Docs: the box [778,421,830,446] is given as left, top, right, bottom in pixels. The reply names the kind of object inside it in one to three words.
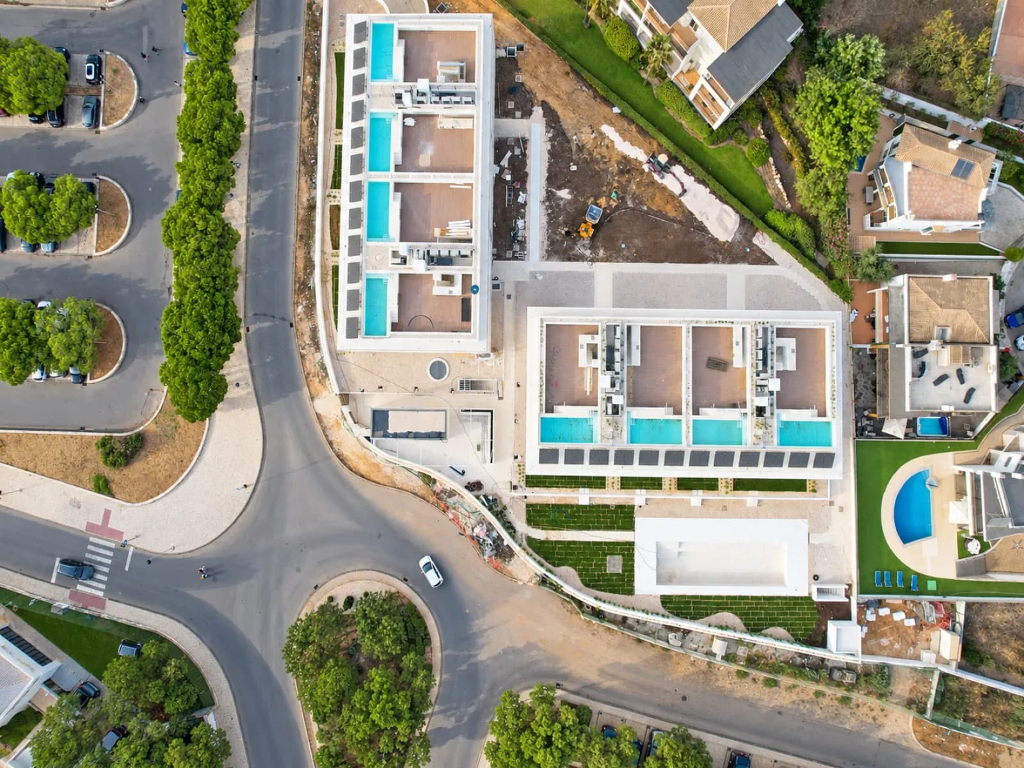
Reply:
swimming pool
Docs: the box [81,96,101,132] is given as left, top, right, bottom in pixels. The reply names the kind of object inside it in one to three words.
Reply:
car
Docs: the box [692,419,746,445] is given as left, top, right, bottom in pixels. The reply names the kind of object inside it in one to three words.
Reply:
swimming pool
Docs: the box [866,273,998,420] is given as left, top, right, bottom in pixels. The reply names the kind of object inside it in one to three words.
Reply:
house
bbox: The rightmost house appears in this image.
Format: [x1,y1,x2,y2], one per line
[949,424,1024,577]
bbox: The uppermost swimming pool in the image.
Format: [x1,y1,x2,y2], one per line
[371,26,394,81]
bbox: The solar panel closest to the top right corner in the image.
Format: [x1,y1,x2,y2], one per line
[951,159,975,179]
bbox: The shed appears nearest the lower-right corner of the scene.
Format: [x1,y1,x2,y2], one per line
[923,624,960,662]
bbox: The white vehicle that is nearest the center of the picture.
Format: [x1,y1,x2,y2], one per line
[420,554,444,588]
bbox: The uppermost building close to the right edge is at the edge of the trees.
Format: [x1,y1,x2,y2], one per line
[857,123,1003,236]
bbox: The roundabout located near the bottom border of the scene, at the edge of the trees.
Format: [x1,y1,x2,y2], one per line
[292,571,441,768]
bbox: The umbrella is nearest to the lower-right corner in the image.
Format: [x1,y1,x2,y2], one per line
[946,502,966,521]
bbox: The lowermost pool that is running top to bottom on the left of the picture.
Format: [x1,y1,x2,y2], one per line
[366,274,388,336]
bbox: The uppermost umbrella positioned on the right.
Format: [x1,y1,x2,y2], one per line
[877,419,908,443]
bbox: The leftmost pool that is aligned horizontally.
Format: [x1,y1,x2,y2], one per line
[541,417,597,443]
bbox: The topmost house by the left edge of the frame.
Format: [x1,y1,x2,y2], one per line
[0,598,82,720]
